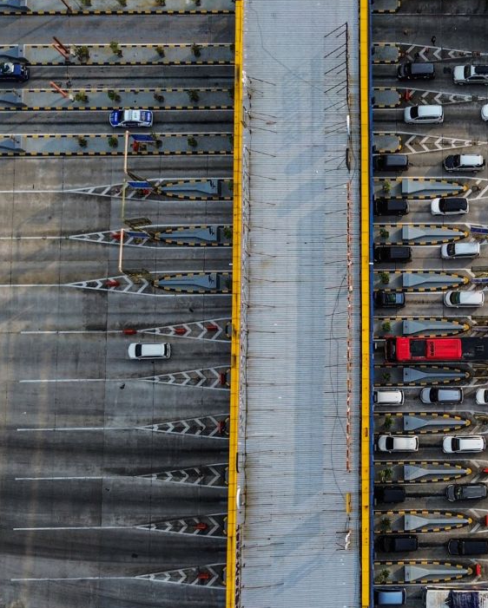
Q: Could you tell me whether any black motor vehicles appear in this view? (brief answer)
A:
Yes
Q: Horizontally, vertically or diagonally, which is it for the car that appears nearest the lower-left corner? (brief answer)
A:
horizontally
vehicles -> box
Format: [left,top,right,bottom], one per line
[430,195,469,217]
[445,482,488,503]
[110,107,155,128]
[374,151,410,172]
[442,434,485,454]
[447,537,488,558]
[375,533,418,554]
[398,60,435,82]
[375,587,409,608]
[375,485,408,505]
[404,104,444,125]
[374,289,409,309]
[421,582,488,608]
[443,289,484,308]
[420,385,463,406]
[440,239,480,259]
[0,62,33,83]
[443,150,487,173]
[452,62,488,85]
[374,196,409,217]
[377,433,419,453]
[375,387,406,408]
[374,244,413,263]
[480,103,488,122]
[384,336,488,364]
[128,341,173,361]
